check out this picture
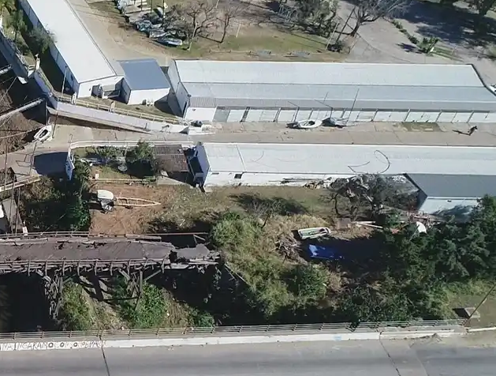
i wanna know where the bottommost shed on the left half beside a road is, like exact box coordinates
[153,143,188,180]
